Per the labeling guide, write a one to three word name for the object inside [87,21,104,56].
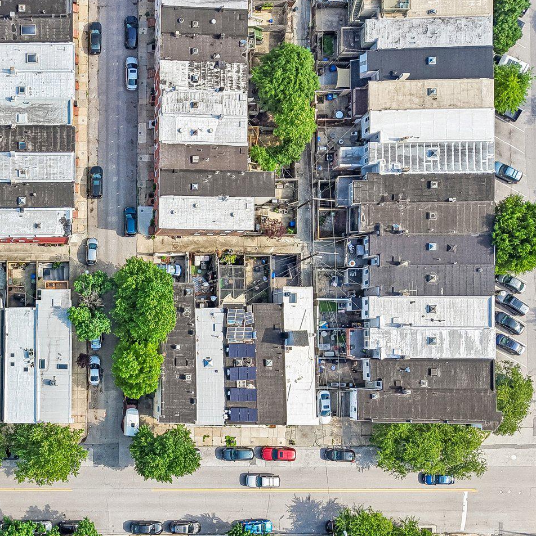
car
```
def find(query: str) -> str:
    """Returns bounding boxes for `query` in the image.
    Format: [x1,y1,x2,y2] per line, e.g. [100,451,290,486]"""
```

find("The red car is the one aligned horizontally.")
[260,446,295,463]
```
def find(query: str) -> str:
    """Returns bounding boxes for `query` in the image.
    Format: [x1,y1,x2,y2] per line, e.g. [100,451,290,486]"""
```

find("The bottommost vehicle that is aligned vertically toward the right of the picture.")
[319,387,333,421]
